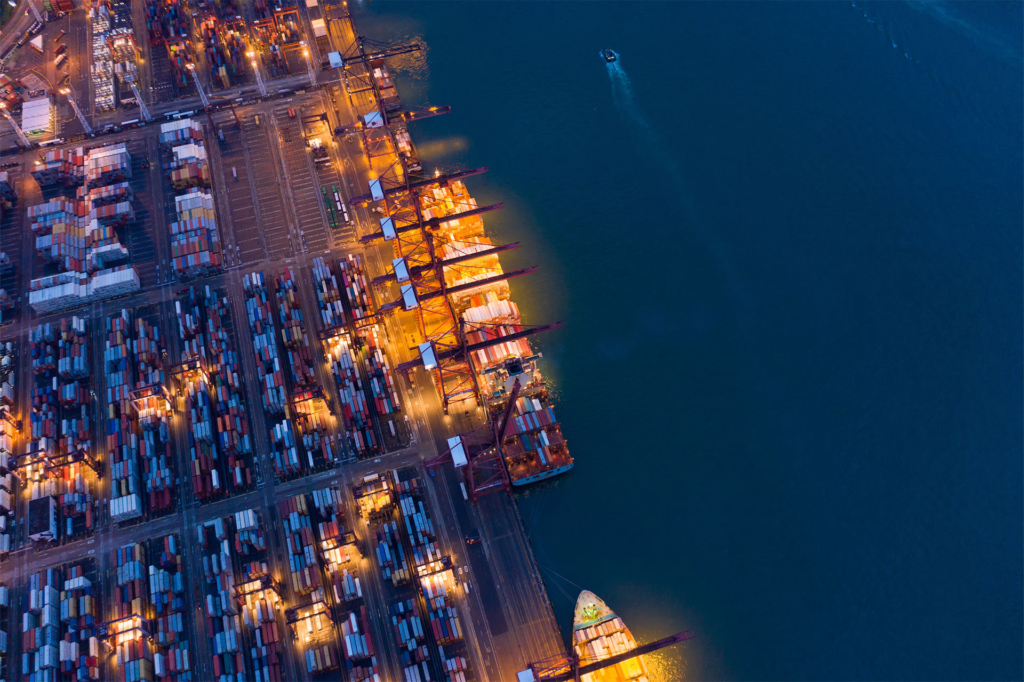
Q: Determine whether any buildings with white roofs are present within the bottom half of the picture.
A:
No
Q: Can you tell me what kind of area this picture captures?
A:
port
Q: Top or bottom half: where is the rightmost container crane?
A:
bottom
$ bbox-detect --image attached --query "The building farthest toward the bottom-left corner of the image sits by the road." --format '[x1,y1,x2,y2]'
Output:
[28,494,60,544]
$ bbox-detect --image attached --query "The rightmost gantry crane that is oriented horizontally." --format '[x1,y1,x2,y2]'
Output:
[515,629,695,682]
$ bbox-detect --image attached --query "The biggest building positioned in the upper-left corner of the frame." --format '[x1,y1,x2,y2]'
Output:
[21,94,58,135]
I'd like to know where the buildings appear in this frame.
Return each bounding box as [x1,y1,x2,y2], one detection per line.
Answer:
[28,494,60,544]
[119,88,137,105]
[21,94,58,135]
